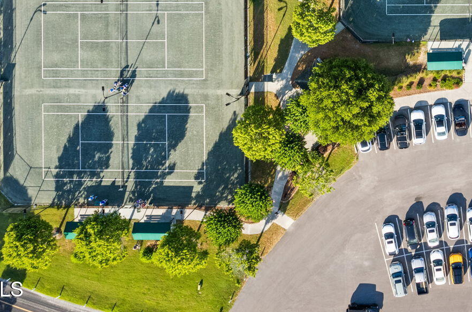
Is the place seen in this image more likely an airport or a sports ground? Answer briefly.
sports ground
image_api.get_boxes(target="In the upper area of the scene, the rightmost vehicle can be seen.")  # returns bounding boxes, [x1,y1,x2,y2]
[452,105,468,137]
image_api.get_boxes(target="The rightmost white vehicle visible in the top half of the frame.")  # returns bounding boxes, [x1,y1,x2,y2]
[431,104,448,141]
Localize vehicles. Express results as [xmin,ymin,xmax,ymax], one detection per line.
[357,126,371,154]
[444,204,461,240]
[410,110,426,145]
[393,114,411,152]
[390,262,408,299]
[372,118,391,152]
[381,223,398,256]
[467,207,472,244]
[431,104,448,141]
[448,252,466,287]
[411,256,430,298]
[402,218,422,251]
[430,249,447,286]
[347,305,380,312]
[423,212,440,248]
[452,105,468,137]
